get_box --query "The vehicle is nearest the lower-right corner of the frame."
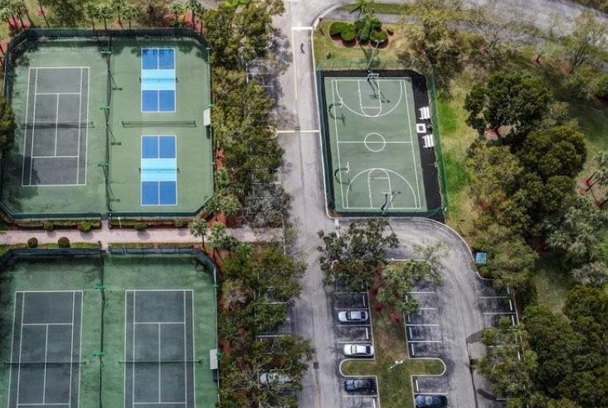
[415,394,446,408]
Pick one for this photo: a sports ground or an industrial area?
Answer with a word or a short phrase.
sports ground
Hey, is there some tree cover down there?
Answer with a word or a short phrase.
Yes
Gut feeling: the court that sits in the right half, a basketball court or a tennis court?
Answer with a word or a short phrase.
basketball court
